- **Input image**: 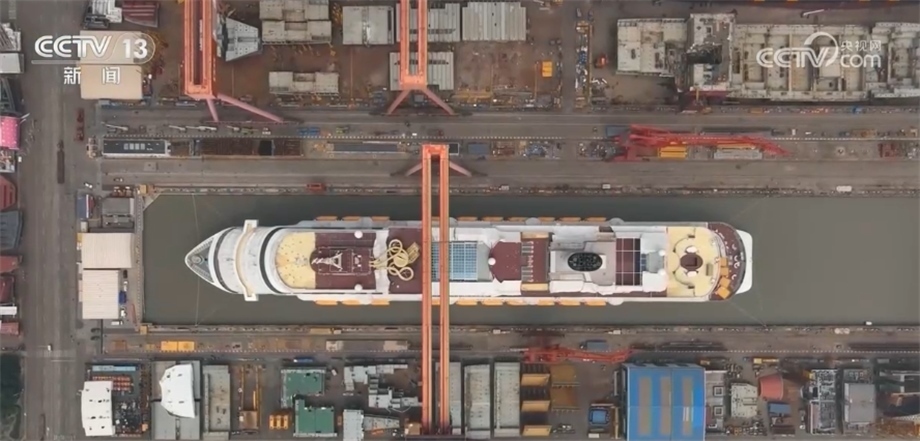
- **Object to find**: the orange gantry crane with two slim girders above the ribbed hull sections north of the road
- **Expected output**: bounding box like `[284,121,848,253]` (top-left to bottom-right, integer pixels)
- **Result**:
[373,0,466,114]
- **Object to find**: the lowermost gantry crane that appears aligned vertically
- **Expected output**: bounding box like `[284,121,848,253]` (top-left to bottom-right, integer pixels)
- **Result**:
[391,145,486,441]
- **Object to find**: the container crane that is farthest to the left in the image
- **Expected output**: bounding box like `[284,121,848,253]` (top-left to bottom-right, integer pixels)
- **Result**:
[181,0,298,123]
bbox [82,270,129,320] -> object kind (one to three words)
building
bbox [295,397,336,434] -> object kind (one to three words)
shed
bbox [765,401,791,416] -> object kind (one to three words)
building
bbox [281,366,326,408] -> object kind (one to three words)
shed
